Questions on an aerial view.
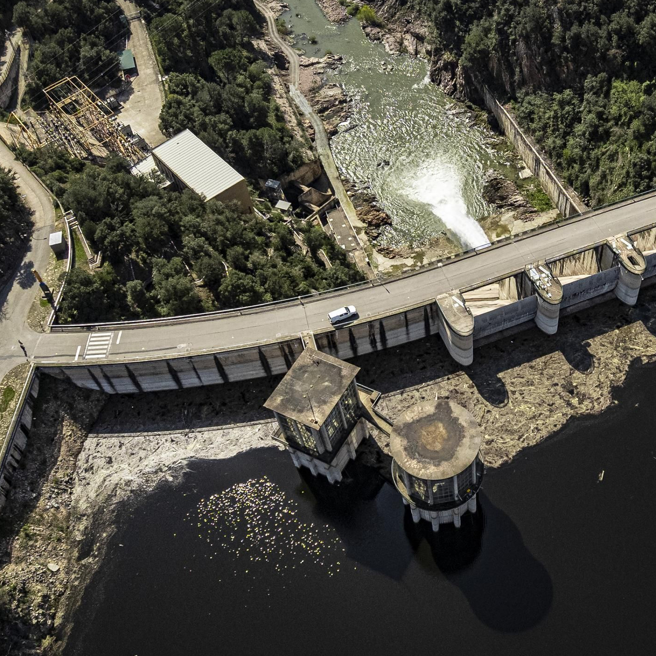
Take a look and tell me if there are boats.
No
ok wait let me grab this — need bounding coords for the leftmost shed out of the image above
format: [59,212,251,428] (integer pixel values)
[49,231,68,255]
